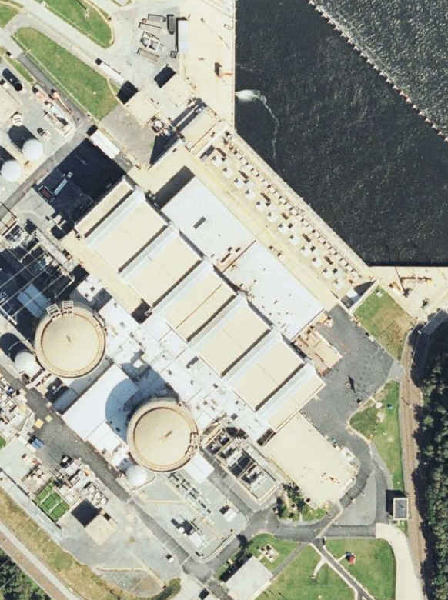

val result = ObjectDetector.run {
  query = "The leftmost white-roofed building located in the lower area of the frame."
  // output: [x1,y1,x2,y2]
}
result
[0,438,34,489]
